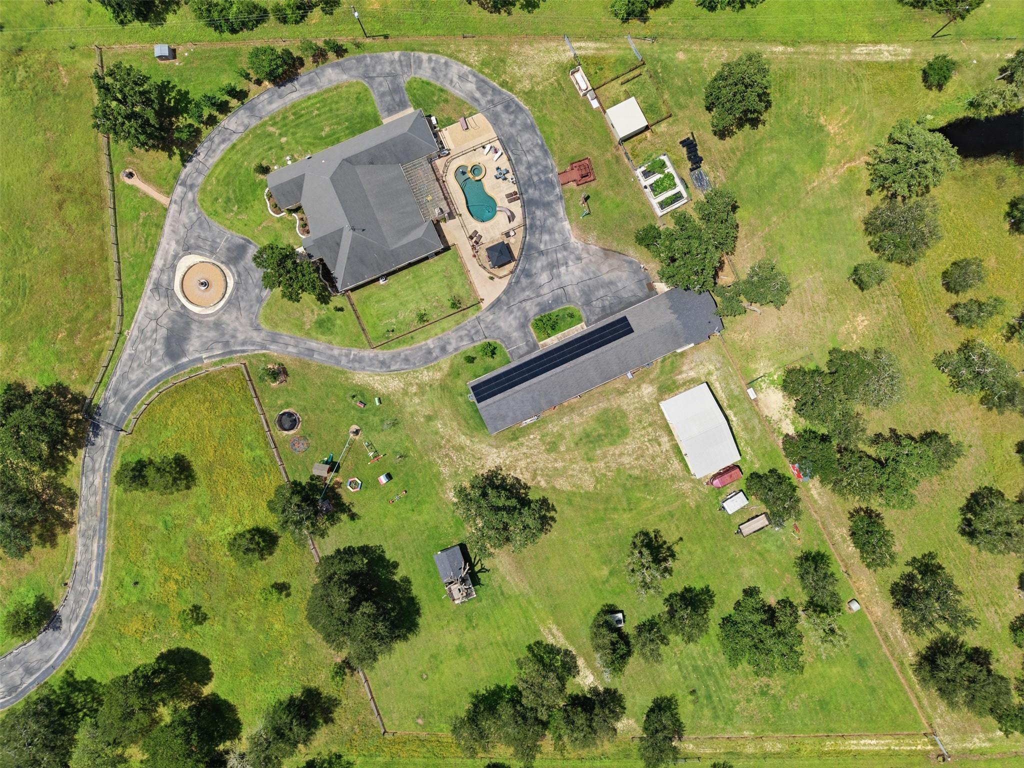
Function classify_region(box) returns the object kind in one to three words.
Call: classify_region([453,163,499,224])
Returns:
swimming pool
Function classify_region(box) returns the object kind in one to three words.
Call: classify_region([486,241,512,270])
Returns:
gazebo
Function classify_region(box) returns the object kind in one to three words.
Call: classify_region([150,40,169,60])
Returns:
shed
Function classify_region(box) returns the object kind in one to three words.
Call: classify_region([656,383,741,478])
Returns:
barn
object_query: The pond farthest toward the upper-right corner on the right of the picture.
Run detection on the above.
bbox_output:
[930,106,1024,169]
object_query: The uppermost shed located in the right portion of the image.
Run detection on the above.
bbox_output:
[604,96,648,143]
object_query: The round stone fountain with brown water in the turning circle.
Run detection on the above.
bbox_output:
[180,261,227,307]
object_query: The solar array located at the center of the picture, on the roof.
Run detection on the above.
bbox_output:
[471,316,634,404]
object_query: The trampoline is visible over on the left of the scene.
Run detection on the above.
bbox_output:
[273,411,299,433]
